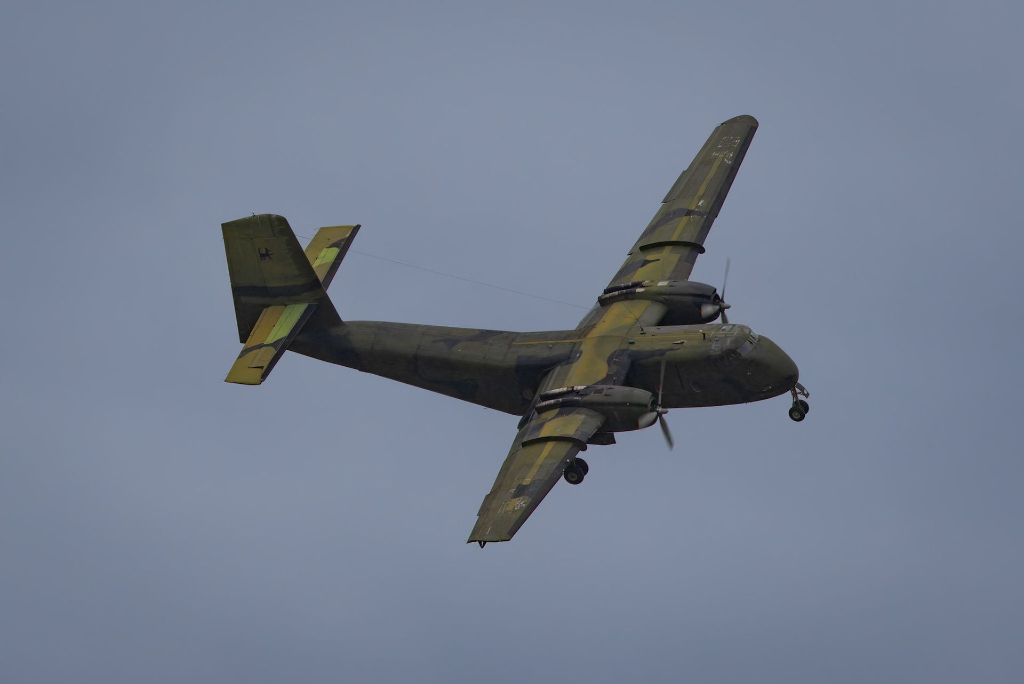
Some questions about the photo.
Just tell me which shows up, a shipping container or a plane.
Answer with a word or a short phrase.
plane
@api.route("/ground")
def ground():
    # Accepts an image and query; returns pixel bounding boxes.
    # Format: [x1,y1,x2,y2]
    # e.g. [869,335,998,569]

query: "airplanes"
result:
[219,115,810,549]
